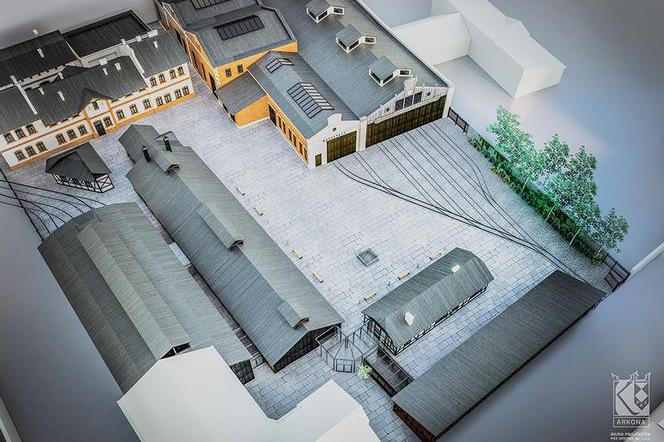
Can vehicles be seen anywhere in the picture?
No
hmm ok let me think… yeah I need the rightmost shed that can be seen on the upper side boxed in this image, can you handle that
[246,0,458,169]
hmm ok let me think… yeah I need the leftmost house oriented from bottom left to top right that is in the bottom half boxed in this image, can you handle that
[361,248,494,356]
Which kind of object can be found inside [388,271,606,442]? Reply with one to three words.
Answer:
shed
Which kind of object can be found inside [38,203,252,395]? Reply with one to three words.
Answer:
building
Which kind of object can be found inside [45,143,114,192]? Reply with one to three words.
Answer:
house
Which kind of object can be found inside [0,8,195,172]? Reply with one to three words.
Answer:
building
